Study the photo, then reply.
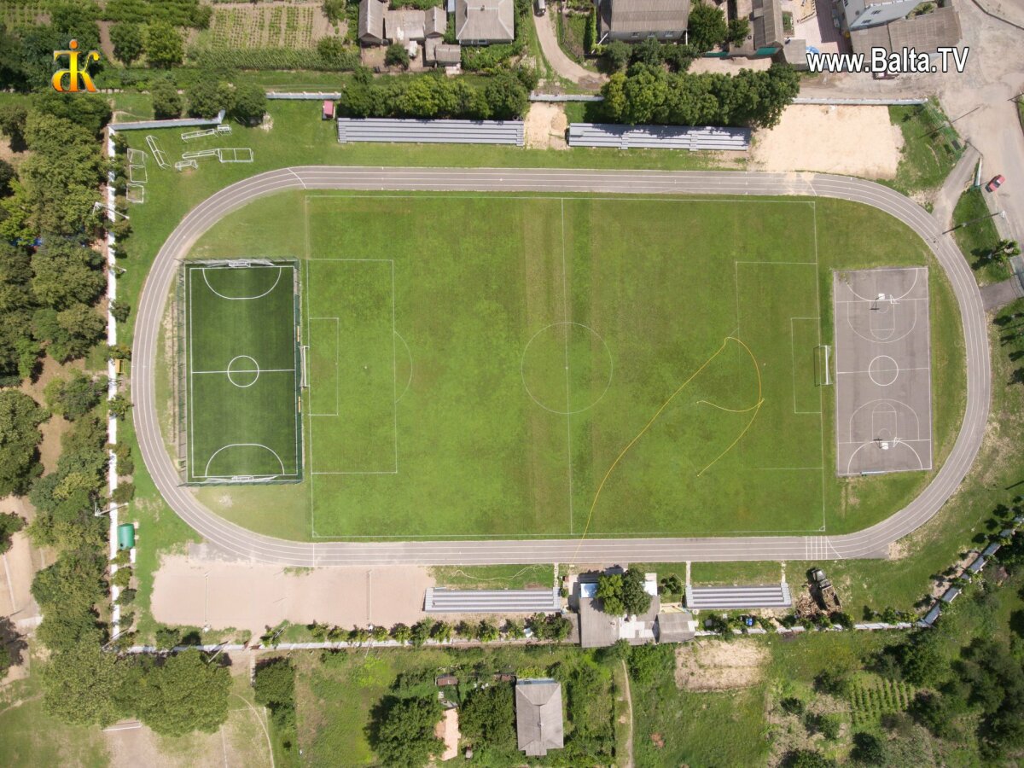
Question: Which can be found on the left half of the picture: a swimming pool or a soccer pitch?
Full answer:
The feature located on the left half of the picture is a soccer pitch.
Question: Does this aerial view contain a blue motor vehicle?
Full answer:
No, I can see no blue motor vehicle in this picture.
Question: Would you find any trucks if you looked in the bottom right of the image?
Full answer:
Yes, a truck is visible in the bottom right of the image.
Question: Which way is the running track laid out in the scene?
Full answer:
The running track runs from side to side in the image.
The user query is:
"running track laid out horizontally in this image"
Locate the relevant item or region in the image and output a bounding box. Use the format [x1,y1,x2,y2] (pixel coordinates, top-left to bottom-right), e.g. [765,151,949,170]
[131,166,991,566]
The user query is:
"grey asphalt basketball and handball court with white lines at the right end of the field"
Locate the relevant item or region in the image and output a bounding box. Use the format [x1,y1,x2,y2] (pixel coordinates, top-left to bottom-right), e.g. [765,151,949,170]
[833,266,933,477]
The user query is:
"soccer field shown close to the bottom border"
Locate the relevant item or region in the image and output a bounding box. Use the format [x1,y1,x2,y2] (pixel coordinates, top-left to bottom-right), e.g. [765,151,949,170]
[98,707,270,768]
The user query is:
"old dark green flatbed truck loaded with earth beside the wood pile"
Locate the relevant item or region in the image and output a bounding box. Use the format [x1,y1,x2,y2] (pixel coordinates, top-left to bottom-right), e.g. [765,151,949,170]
[810,565,844,613]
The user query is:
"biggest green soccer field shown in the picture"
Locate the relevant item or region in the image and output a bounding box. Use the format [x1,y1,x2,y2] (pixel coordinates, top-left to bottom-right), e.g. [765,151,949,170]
[305,193,830,541]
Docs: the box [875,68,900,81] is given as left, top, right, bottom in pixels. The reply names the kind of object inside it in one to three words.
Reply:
vehicle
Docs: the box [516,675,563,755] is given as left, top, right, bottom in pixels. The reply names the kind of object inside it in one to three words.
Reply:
house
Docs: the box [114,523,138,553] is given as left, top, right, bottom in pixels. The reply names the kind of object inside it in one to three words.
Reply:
shed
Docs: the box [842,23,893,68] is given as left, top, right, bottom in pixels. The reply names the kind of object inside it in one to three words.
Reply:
building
